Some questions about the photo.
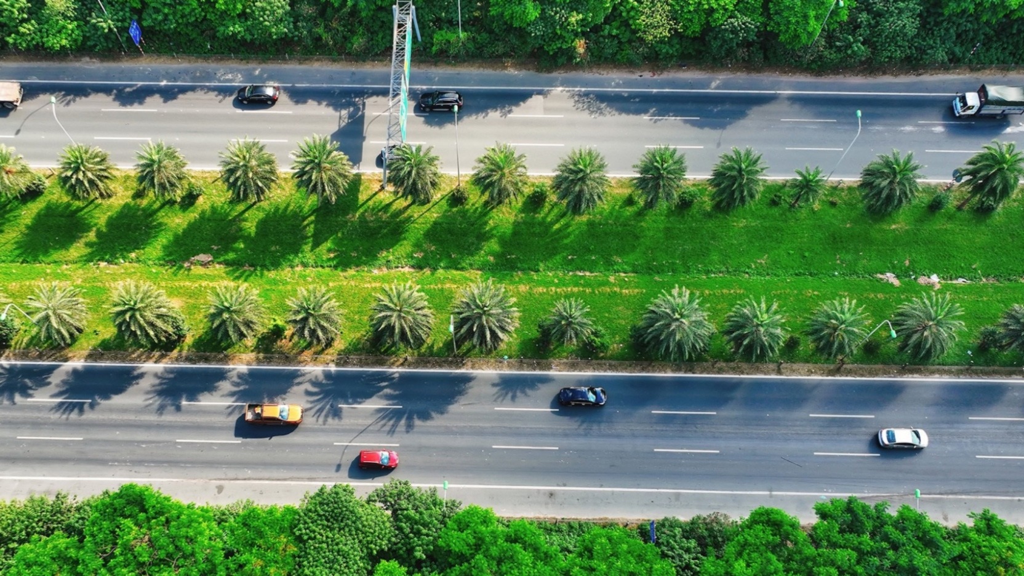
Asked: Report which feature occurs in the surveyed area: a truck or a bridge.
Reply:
truck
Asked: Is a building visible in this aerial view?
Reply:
No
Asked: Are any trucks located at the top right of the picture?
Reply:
Yes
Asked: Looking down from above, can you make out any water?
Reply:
No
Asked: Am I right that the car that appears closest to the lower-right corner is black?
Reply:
No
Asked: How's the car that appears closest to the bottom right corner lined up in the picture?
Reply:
from left to right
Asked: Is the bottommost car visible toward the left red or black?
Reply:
red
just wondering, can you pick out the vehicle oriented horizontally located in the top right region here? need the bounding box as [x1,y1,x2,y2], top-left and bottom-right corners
[950,88,1024,120]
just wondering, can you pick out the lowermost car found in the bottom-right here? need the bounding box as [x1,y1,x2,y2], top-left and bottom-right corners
[876,427,929,450]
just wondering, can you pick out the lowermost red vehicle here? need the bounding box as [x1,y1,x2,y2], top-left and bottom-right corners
[359,448,400,471]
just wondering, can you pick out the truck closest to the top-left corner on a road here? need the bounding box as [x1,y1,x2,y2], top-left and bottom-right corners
[0,82,27,113]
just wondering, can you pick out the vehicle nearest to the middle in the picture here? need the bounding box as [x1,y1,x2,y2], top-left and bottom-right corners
[559,386,607,408]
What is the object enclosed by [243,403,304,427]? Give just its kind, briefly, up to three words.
truck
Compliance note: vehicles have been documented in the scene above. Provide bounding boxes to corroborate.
[876,427,929,450]
[420,92,464,114]
[237,85,282,106]
[559,386,607,408]
[243,403,304,427]
[359,448,400,471]
[0,82,27,113]
[950,88,1024,120]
